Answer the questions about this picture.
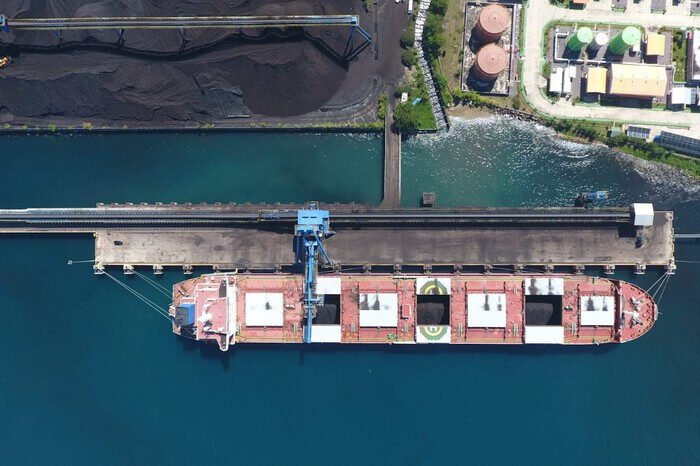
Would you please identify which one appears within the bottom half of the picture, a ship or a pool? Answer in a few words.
ship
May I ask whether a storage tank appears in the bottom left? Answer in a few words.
No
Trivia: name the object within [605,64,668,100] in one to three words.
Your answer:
building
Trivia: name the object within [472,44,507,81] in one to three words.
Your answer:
storage tank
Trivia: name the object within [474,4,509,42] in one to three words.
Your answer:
storage tank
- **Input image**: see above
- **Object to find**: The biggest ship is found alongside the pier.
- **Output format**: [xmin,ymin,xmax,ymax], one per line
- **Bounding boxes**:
[170,268,663,353]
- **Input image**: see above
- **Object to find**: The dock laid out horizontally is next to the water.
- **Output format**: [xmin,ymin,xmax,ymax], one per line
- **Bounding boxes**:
[94,204,675,265]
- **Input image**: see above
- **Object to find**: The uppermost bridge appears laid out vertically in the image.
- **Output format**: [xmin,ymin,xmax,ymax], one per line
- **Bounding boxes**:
[381,124,401,206]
